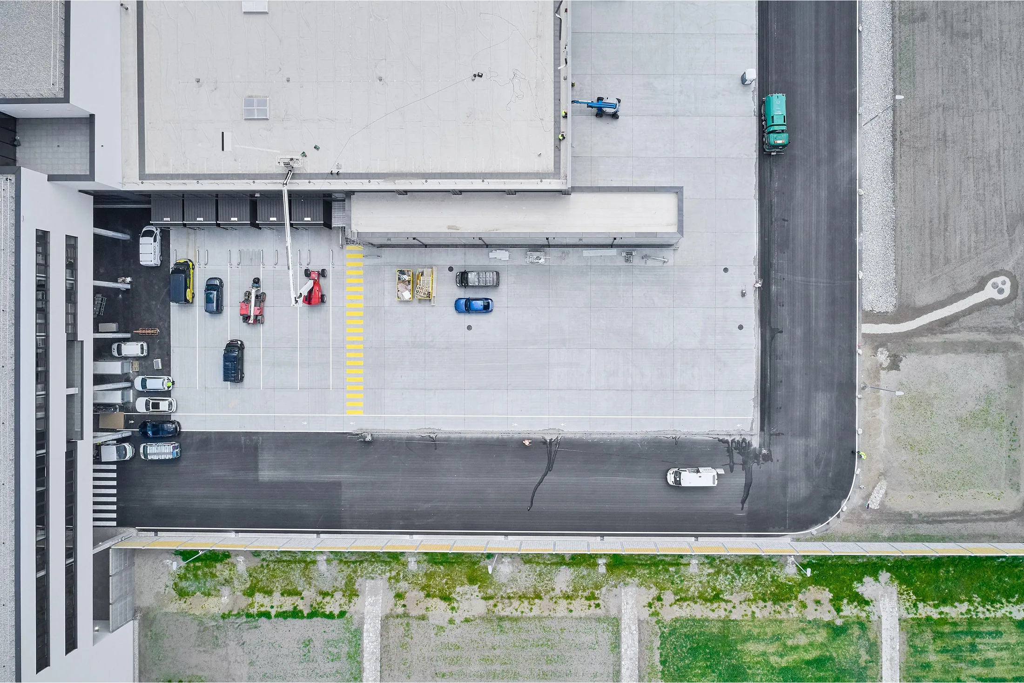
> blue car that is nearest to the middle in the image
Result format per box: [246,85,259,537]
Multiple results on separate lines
[455,296,494,315]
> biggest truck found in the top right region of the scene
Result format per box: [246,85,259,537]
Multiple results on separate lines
[759,94,787,157]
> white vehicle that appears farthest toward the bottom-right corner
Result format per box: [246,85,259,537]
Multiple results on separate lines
[666,467,725,488]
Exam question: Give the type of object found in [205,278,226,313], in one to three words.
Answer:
car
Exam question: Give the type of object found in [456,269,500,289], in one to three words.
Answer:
vehicle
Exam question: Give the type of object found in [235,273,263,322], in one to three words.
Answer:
work vehicle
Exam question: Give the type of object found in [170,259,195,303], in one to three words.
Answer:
vehicle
